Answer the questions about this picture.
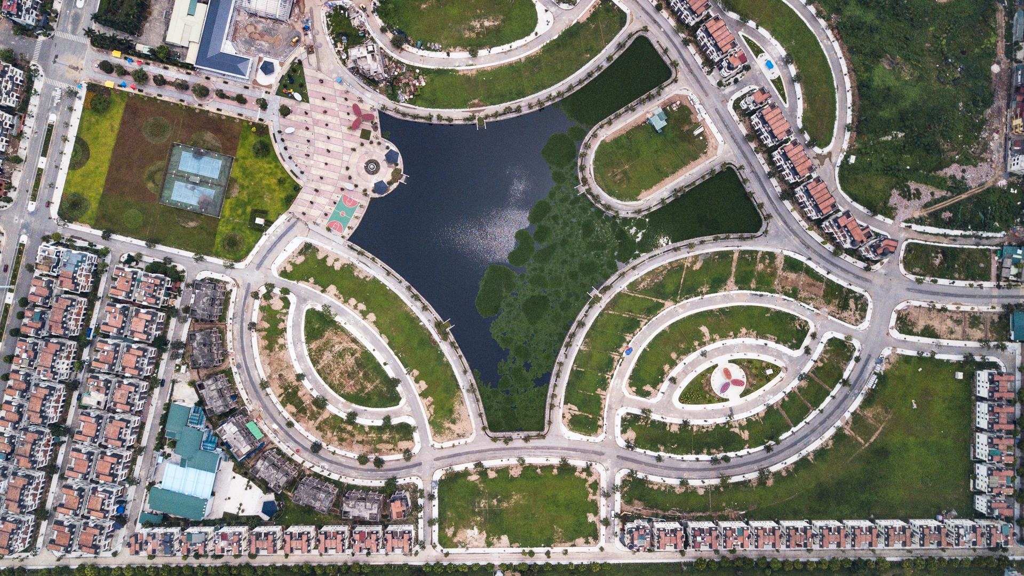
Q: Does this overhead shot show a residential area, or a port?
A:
residential area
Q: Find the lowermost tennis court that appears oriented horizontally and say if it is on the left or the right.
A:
left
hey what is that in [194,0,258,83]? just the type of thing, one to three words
building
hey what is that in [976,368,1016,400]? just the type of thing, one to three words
house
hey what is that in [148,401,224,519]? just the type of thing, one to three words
building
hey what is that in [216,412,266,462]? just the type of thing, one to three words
house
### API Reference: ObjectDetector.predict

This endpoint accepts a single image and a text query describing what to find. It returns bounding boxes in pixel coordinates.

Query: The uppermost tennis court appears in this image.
[178,151,222,179]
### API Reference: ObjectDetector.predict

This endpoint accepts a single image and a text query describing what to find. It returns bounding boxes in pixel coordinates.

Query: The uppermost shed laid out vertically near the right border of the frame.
[1007,10,1023,44]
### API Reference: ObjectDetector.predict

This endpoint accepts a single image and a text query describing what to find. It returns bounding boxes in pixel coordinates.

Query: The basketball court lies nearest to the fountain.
[326,194,358,233]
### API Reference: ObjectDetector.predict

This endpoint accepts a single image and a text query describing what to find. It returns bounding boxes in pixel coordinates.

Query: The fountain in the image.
[363,158,380,174]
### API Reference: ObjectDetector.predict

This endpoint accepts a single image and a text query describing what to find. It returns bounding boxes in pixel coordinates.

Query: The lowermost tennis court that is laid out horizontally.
[170,182,215,208]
